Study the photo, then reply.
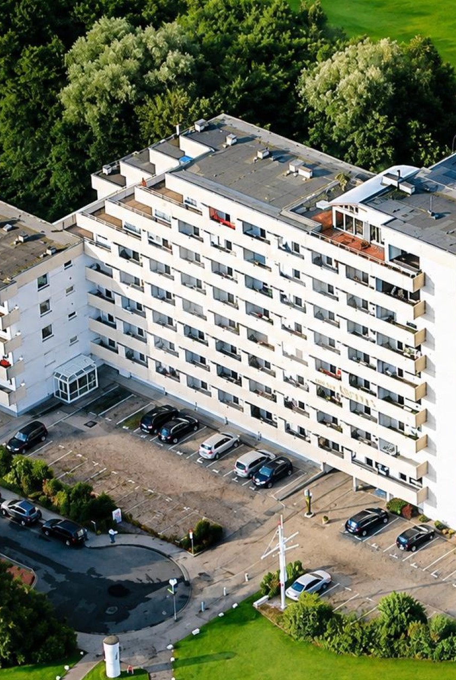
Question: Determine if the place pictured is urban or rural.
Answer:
urban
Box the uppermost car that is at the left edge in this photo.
[5,419,49,450]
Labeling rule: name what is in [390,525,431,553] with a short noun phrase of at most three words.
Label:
car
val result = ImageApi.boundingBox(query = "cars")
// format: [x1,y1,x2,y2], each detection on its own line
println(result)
[287,566,332,596]
[229,449,272,478]
[153,415,197,443]
[5,419,49,450]
[136,405,180,432]
[390,525,431,553]
[250,456,291,487]
[345,504,388,535]
[0,499,42,527]
[195,431,238,459]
